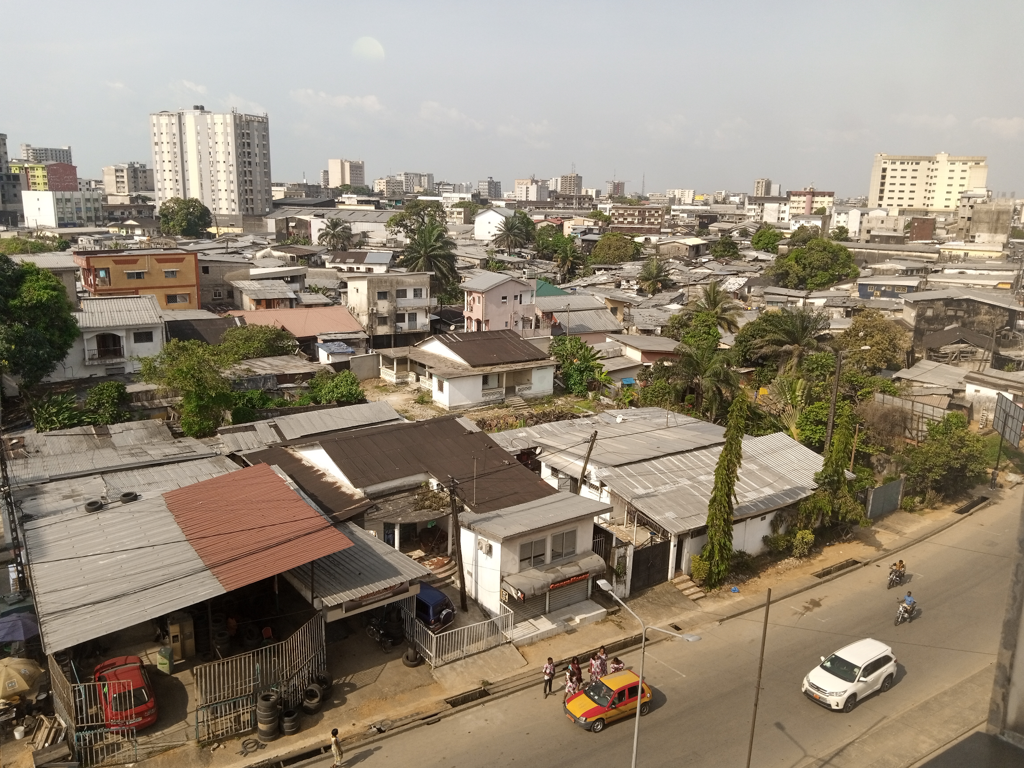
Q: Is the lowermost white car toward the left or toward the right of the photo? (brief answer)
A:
right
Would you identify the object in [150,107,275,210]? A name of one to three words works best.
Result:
building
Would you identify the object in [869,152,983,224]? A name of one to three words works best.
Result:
building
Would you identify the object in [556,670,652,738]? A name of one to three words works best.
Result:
car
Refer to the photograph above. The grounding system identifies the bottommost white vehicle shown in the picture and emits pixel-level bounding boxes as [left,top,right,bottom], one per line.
[798,637,905,714]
